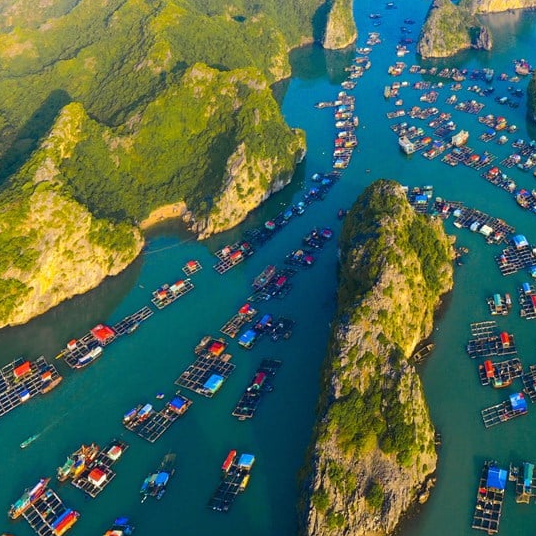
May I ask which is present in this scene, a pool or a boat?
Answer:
boat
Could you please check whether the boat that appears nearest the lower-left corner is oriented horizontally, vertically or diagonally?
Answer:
diagonally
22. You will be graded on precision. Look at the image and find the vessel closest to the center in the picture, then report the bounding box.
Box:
[252,262,278,286]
